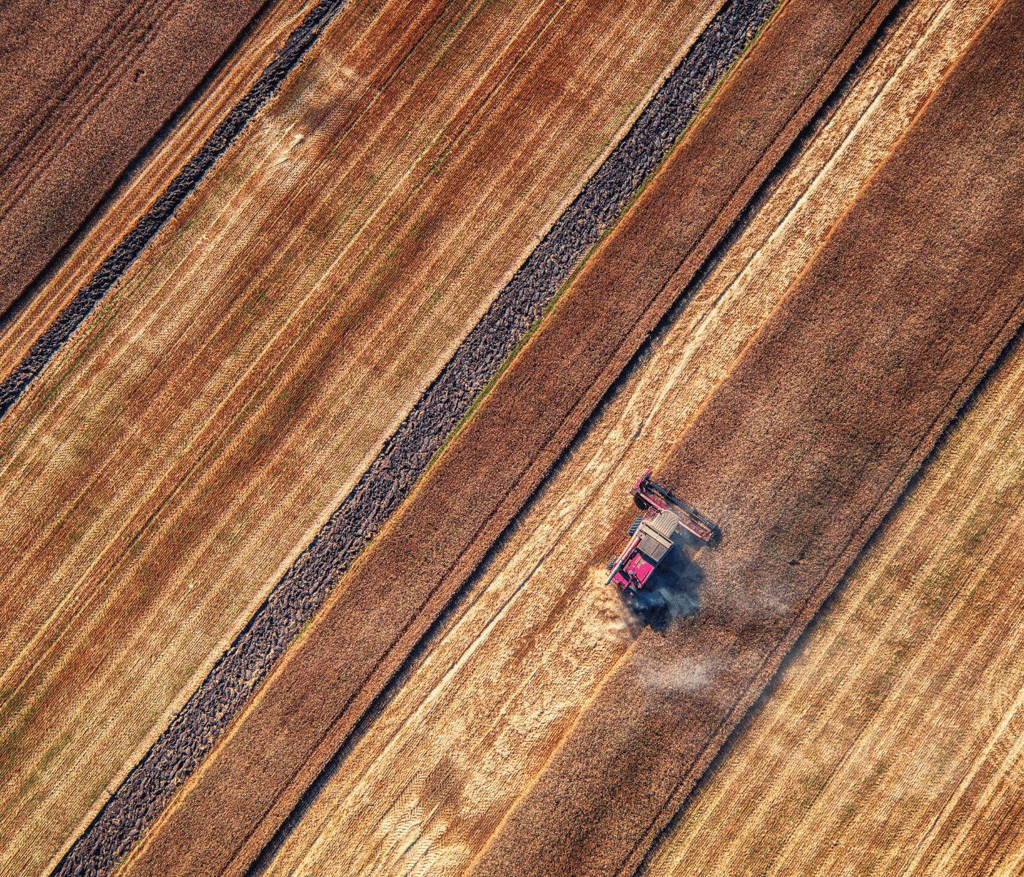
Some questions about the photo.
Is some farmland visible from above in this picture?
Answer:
Yes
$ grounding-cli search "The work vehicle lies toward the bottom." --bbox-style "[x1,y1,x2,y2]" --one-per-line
[604,467,720,595]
